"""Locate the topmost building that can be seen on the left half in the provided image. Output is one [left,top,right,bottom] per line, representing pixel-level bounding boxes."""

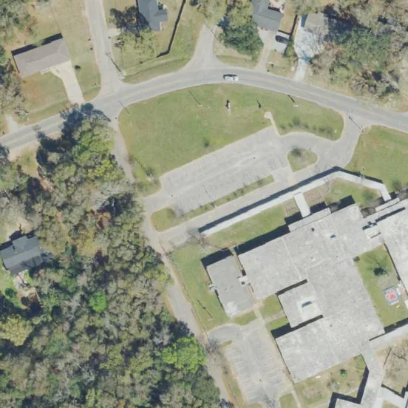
[138,0,166,30]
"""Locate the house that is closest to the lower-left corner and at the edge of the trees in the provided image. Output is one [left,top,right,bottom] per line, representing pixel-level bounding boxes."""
[0,236,44,275]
